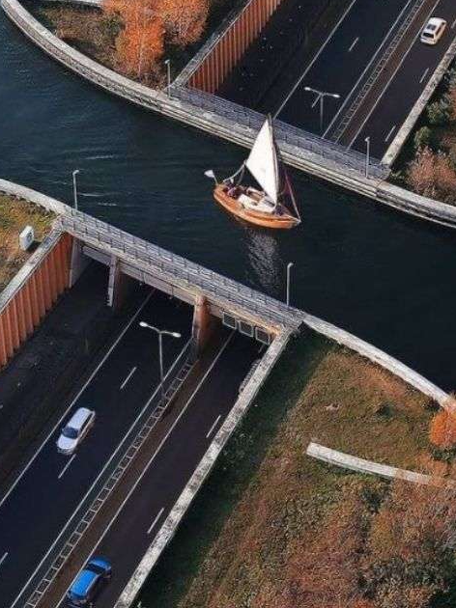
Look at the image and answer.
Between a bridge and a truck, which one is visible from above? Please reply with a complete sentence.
The image shows a bridge.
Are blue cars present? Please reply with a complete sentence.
Yes, this view includes a blue car.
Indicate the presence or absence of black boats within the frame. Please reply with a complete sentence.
No, there is no black boat in the image.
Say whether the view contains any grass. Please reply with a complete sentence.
Yes, the picture does contain grass.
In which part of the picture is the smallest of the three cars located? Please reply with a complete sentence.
The smallest of the three cars is in the top right part of the image.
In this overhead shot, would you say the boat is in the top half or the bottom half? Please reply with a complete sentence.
The boat is in the top half of the image.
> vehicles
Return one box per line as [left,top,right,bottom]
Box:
[421,19,446,46]
[57,410,94,456]
[67,558,107,608]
